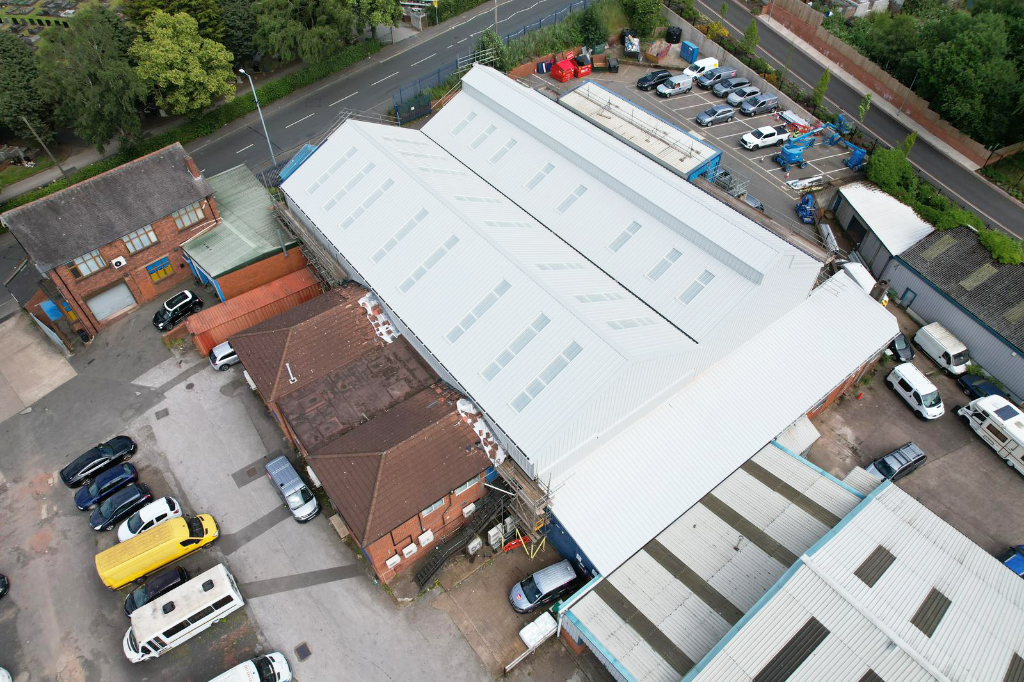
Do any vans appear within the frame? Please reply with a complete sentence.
Yes, this view includes a van.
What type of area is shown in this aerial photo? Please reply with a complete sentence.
The area seen from above is an industrial area.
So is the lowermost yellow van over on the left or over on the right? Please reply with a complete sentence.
The lowermost yellow van is on the left side of the image.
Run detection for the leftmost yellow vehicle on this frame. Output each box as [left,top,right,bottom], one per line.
[87,514,224,590]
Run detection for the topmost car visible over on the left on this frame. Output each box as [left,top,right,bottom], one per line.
[154,293,203,329]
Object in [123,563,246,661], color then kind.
white vehicle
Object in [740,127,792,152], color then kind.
white truck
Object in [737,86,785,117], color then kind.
gray van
